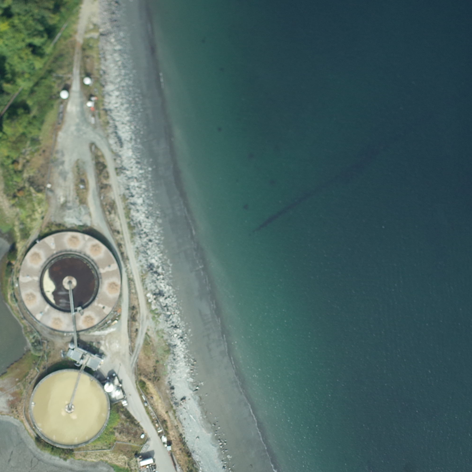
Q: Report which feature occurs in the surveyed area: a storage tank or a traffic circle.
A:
storage tank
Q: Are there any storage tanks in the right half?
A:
No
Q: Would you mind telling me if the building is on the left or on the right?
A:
left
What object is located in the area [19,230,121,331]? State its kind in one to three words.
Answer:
storage tank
